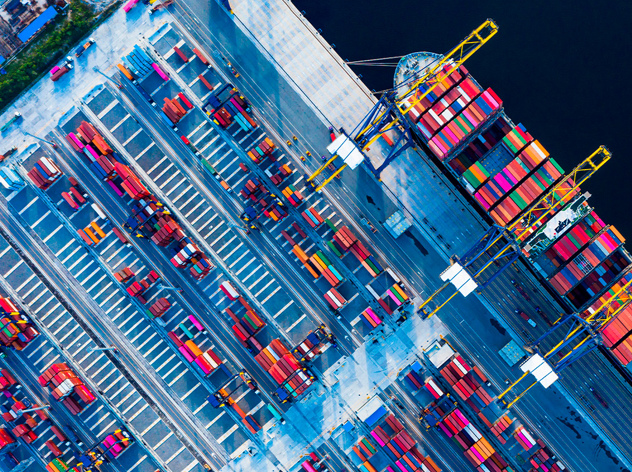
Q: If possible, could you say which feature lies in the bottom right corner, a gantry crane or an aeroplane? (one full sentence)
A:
Looking in the bottom right corner, you will find a gantry crane.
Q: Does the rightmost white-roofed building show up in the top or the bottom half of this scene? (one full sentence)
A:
The rightmost white-roofed building sits in the bottom half of the picture.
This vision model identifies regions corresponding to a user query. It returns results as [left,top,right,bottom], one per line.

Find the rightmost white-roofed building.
[425,341,454,366]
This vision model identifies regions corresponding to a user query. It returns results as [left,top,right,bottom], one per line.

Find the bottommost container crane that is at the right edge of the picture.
[497,279,632,409]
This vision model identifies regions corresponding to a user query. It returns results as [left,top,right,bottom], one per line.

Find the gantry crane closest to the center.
[243,193,294,238]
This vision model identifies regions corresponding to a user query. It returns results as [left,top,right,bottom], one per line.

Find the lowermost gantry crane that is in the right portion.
[418,387,461,429]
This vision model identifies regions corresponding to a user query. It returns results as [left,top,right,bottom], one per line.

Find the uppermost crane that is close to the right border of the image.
[418,144,613,318]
